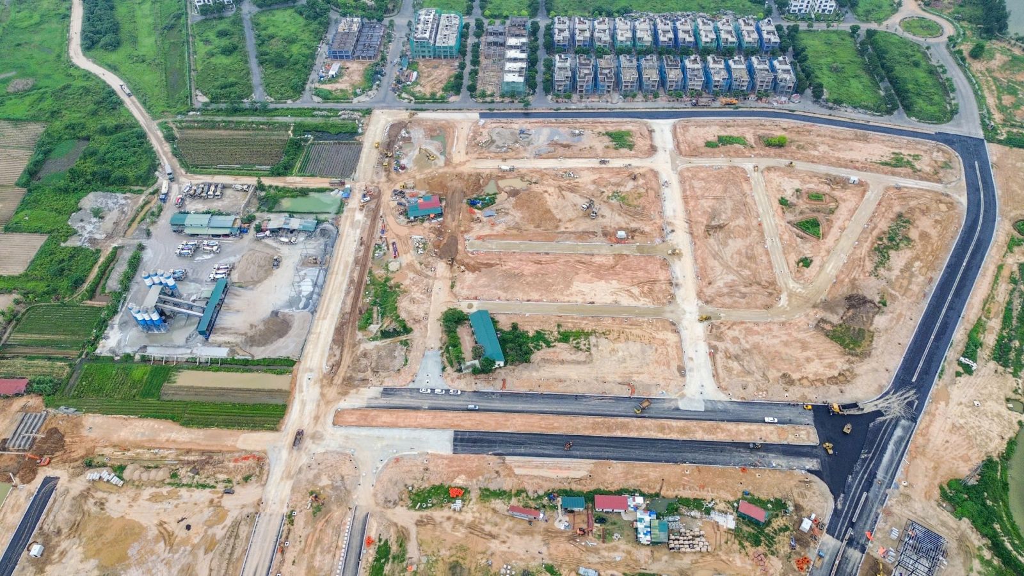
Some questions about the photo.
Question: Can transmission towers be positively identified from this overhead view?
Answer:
Yes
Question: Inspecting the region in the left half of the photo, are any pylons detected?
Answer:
No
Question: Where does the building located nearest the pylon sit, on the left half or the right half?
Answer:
right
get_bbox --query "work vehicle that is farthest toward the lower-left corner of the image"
[29,450,51,466]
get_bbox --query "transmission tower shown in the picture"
[960,452,997,486]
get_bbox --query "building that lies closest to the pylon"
[886,517,948,576]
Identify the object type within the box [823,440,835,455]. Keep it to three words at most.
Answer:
vehicle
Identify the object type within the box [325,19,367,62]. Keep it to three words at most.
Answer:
building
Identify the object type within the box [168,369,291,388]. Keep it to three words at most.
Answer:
pond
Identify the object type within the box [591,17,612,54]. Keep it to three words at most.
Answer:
house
